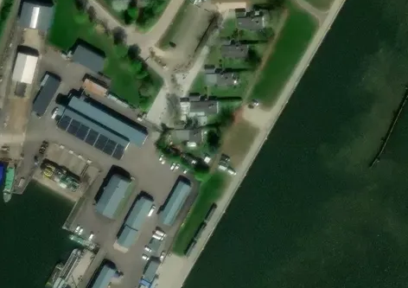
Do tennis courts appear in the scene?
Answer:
No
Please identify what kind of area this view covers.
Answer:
port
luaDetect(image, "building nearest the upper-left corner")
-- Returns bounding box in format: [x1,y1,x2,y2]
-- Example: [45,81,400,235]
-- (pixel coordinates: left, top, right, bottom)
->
[19,0,56,30]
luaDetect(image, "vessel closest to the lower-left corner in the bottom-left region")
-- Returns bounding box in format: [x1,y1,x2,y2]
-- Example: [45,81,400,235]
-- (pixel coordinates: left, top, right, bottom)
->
[45,263,64,288]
